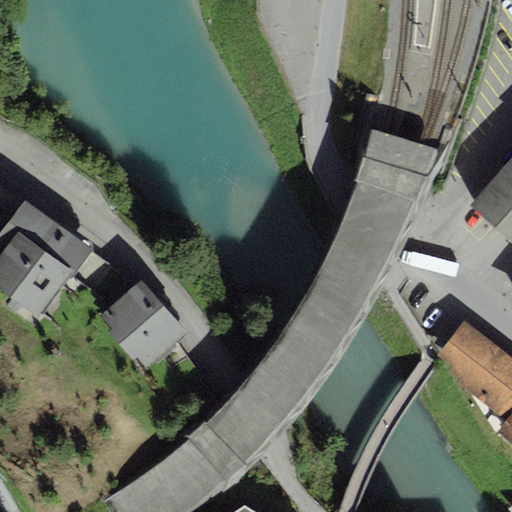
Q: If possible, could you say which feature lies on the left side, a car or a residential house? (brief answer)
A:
residential house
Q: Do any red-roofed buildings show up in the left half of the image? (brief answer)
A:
No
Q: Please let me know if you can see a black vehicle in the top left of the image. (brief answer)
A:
No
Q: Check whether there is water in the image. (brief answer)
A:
Yes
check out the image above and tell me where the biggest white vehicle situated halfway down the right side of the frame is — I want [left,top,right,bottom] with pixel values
[401,250,460,276]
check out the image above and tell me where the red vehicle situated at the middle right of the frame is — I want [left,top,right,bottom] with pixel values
[465,212,481,230]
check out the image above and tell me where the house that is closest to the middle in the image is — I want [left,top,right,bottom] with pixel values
[98,282,185,370]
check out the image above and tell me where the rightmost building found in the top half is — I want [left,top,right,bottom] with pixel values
[471,157,512,231]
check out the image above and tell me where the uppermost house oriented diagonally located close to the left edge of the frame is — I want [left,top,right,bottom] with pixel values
[11,201,92,274]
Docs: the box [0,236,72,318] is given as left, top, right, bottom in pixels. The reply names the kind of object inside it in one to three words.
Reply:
house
